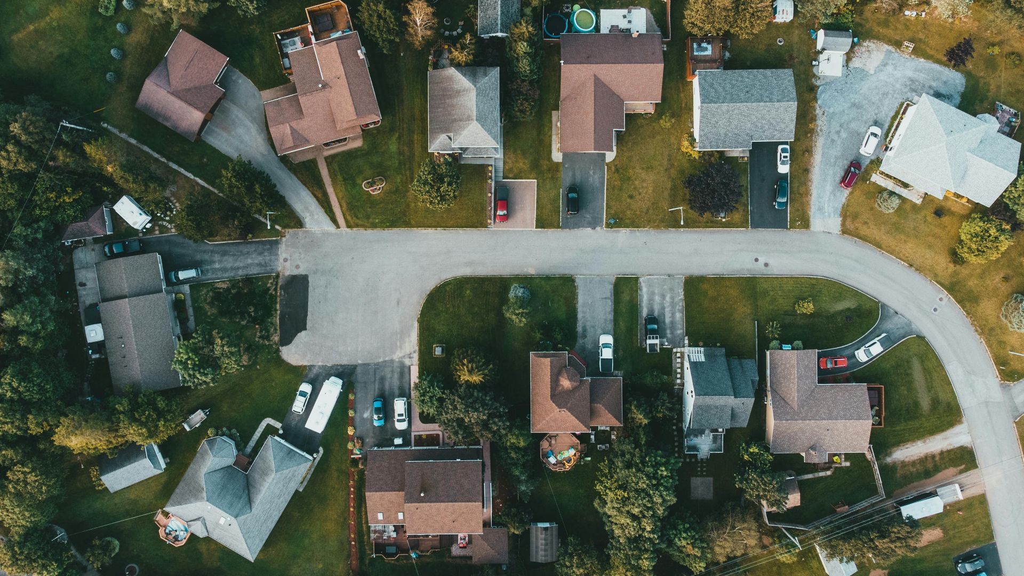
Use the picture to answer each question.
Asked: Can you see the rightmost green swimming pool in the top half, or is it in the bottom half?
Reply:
top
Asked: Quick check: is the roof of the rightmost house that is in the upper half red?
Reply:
No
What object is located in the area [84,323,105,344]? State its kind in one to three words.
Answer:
gazebo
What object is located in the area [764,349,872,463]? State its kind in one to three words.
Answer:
house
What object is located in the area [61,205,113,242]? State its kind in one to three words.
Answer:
shed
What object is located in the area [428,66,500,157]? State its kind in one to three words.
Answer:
house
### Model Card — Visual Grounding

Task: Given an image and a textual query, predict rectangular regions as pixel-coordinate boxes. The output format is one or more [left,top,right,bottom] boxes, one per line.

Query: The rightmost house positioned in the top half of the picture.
[875,93,1022,208]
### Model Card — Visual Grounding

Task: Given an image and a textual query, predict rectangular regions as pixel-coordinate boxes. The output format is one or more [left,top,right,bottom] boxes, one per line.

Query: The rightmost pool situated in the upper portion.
[572,6,598,32]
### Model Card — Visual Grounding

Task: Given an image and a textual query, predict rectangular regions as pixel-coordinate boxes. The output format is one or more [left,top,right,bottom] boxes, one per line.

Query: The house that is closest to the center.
[530,349,623,433]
